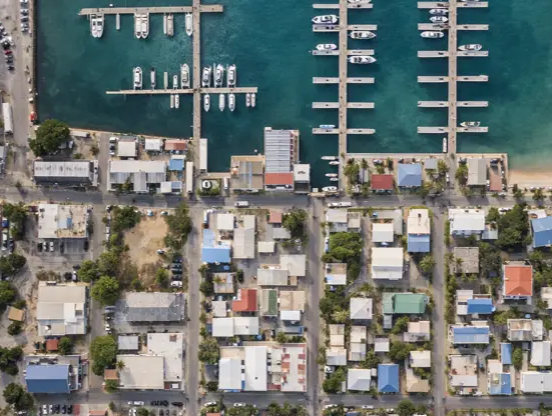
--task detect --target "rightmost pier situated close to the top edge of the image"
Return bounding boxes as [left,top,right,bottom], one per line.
[417,0,488,153]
